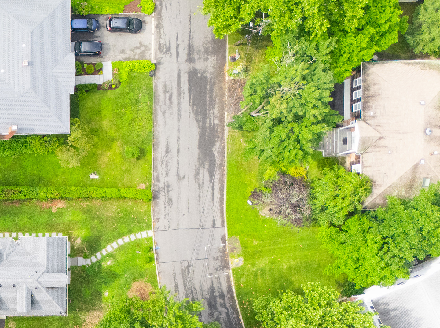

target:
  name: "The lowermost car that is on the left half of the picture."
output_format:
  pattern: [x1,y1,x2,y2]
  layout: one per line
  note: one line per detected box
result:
[71,38,102,57]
